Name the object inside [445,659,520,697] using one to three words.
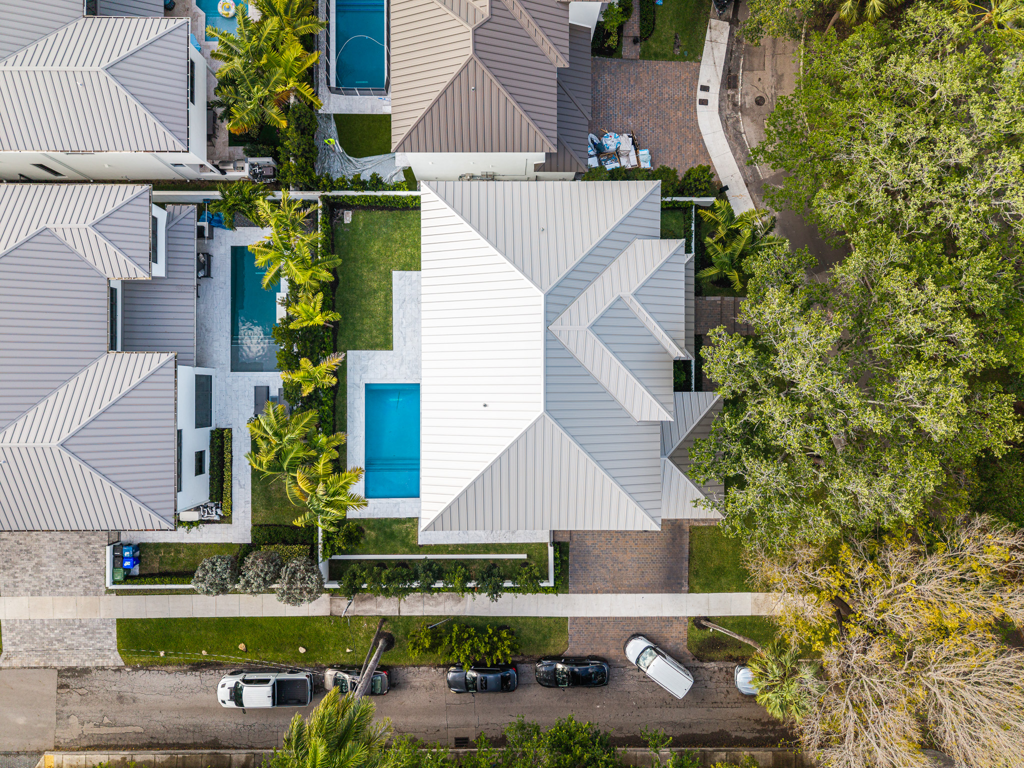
car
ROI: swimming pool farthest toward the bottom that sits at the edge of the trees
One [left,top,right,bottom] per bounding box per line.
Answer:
[361,380,421,501]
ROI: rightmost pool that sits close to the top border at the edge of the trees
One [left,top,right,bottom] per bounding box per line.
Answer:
[334,0,386,88]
